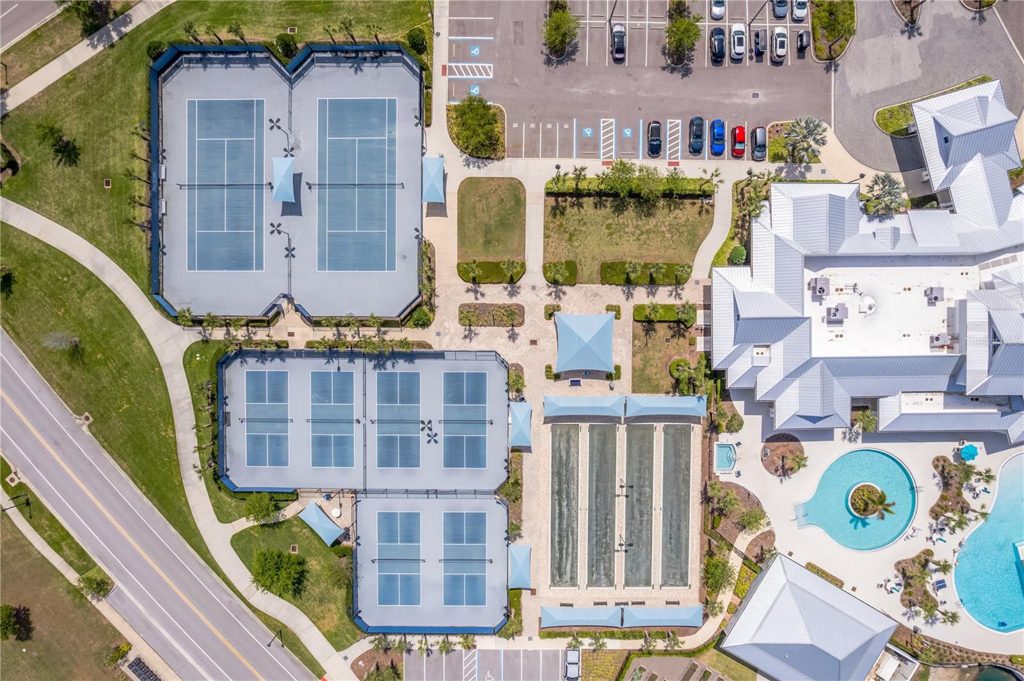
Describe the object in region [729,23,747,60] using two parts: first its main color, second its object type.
white car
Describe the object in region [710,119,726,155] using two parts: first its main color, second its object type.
blue car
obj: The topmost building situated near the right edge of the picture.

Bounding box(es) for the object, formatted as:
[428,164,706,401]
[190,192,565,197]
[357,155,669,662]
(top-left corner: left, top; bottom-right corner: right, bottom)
[707,78,1024,445]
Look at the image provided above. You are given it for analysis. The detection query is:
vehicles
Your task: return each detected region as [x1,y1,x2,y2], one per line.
[563,649,582,681]
[710,0,726,22]
[791,0,809,21]
[611,24,627,60]
[750,126,768,160]
[688,116,705,154]
[709,27,727,63]
[772,0,789,20]
[646,120,663,158]
[755,26,770,51]
[770,26,788,63]
[731,126,747,156]
[729,23,747,60]
[710,119,726,155]
[797,27,812,50]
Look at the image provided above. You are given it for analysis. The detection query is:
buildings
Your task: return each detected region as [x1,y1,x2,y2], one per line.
[721,552,899,681]
[707,78,1024,445]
